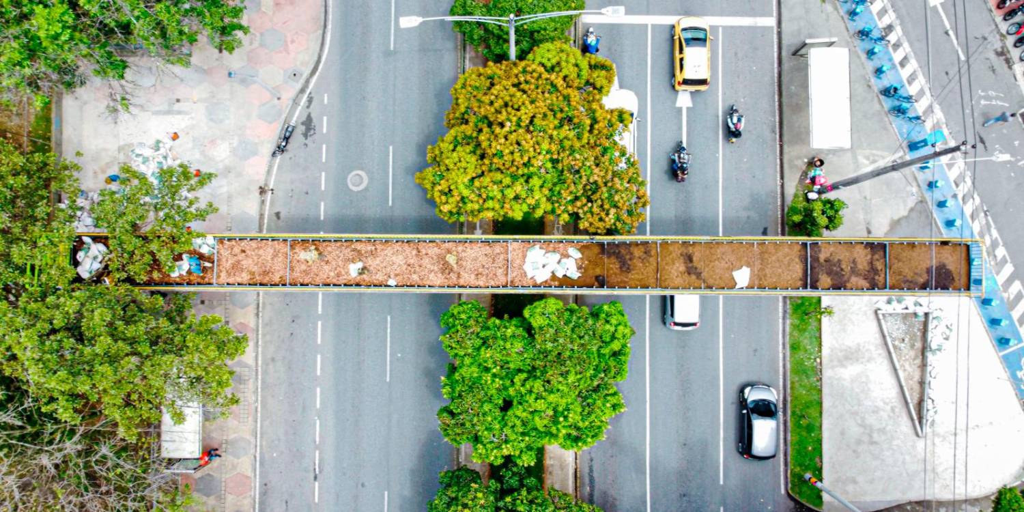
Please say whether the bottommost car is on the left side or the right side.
right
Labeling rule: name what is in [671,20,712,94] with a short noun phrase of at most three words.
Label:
car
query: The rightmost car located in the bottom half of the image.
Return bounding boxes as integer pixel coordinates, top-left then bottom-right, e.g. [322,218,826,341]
[736,381,781,460]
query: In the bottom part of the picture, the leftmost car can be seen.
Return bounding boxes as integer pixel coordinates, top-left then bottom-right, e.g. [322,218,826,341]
[662,295,699,331]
